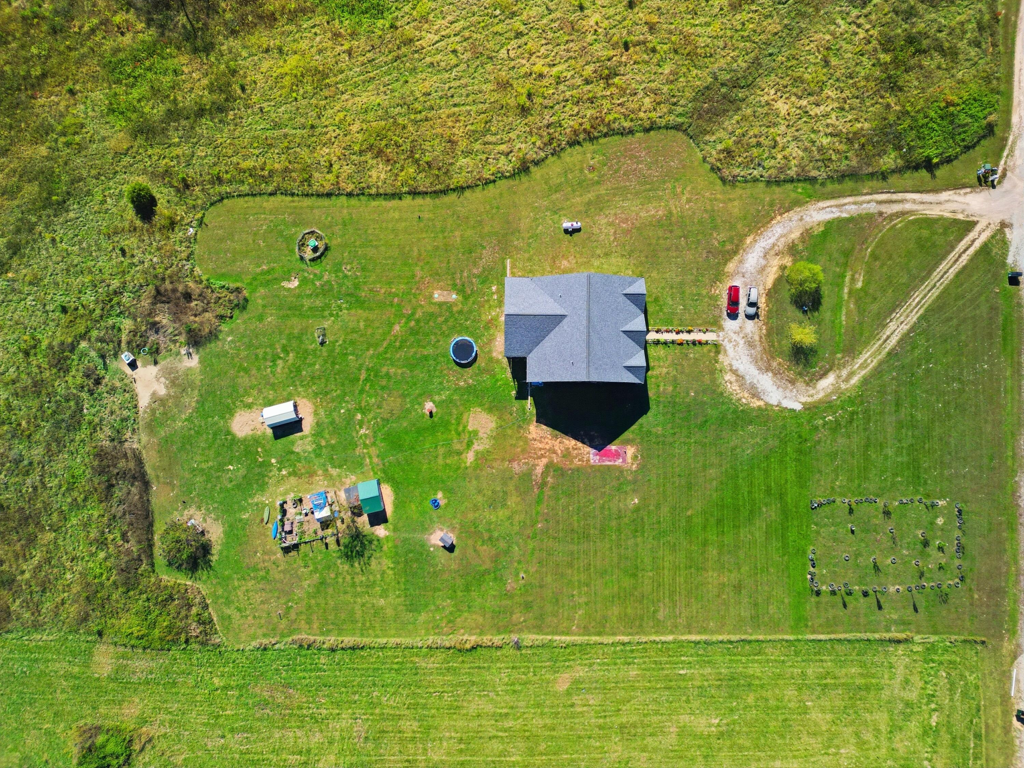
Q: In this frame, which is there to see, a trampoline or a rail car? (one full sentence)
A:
Looking from above, you can make out a trampoline.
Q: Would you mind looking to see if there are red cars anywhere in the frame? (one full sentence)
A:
Yes, there's a red car down there.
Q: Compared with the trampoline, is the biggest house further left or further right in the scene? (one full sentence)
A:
The biggest house appears to the right of the trampoline in this view.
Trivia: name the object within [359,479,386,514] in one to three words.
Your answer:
shed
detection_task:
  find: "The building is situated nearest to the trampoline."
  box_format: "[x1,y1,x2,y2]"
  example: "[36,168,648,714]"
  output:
[504,272,647,383]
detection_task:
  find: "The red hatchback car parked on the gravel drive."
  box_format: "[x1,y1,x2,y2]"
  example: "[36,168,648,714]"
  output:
[726,285,742,313]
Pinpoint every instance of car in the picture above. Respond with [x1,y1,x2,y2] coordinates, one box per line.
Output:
[726,285,742,313]
[742,285,759,316]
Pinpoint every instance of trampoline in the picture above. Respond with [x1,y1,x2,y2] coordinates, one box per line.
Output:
[450,337,476,362]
